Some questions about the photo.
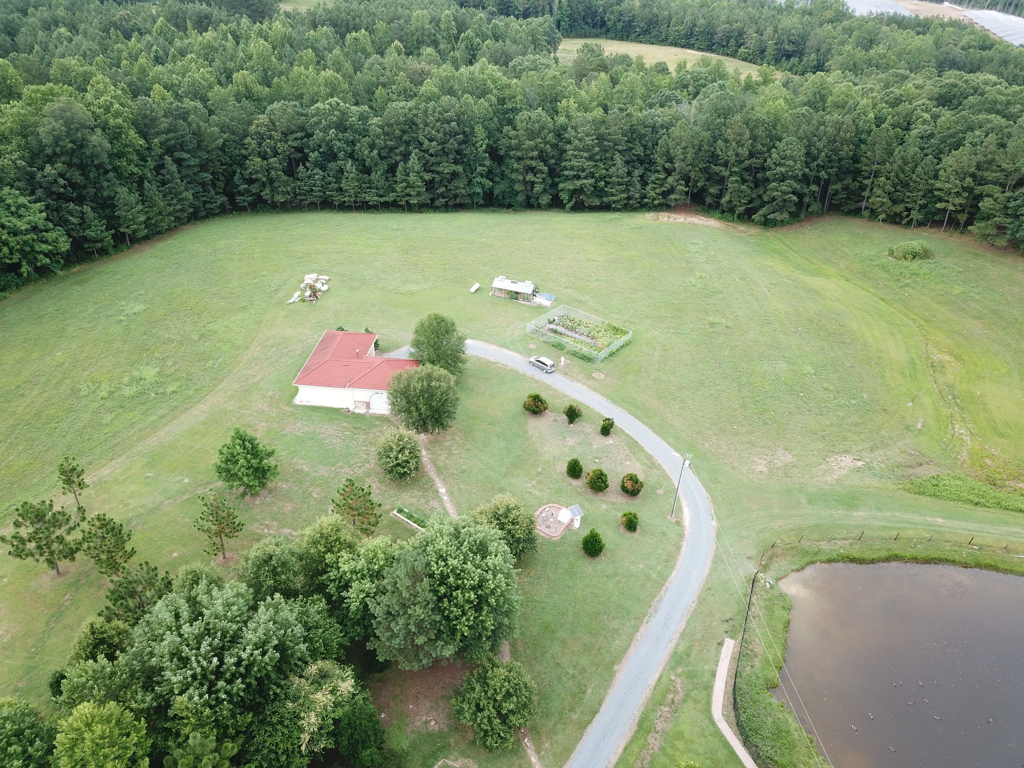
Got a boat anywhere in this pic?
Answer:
No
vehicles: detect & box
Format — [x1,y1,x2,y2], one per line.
[528,353,557,371]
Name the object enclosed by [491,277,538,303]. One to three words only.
greenhouse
